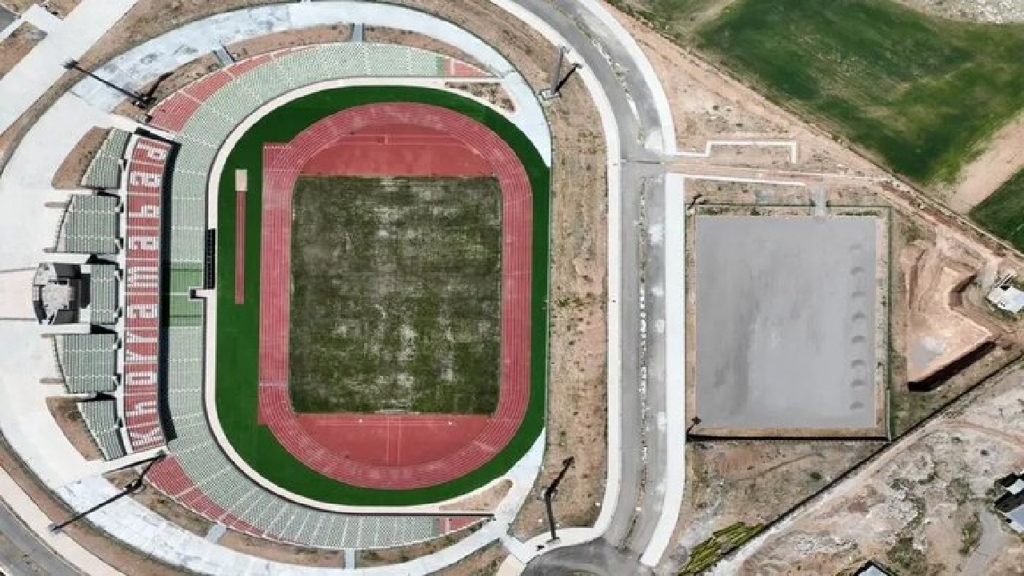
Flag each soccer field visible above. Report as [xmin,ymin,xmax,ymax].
[291,177,501,413]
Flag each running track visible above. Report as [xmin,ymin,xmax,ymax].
[259,102,533,490]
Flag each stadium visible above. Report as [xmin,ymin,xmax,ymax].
[39,23,496,568]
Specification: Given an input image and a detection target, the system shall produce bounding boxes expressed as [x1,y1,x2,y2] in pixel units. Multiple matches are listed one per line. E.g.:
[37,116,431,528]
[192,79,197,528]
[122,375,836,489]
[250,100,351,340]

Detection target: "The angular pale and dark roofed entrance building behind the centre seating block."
[33,264,92,323]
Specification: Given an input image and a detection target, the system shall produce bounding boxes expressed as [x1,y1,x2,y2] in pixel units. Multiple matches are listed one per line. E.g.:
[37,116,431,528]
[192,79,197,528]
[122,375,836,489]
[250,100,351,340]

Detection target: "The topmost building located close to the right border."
[983,278,1024,314]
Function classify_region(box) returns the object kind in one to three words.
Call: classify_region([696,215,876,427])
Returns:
sports court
